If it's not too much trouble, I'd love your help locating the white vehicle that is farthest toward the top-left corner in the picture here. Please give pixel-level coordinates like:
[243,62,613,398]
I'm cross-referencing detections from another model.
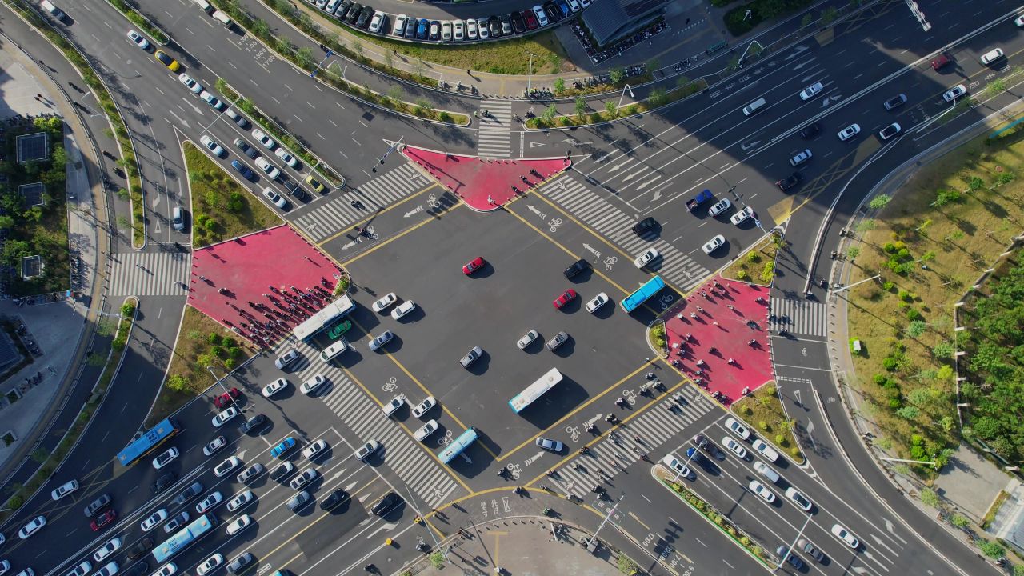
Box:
[40,0,66,21]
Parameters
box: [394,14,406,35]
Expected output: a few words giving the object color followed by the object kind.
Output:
white vehicle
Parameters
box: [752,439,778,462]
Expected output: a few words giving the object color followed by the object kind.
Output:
white vehicle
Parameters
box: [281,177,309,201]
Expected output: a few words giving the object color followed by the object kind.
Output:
black truck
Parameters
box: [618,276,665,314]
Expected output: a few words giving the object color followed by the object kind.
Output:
blue bus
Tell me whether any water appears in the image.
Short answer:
No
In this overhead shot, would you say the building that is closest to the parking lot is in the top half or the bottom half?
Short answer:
top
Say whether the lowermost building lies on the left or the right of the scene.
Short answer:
right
